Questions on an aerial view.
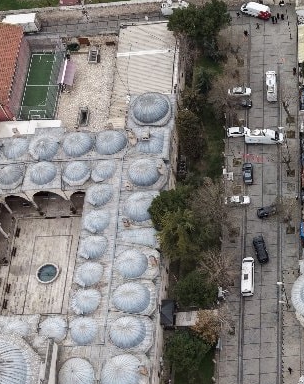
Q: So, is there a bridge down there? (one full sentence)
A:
No, the picture doesn't show any bridge.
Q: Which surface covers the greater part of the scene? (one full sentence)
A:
The largest share of the image is taken up by buildings.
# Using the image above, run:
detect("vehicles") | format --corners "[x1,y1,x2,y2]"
[251,234,268,263]
[225,125,244,137]
[241,161,253,184]
[263,68,277,101]
[241,0,272,17]
[228,97,252,108]
[227,84,251,96]
[241,125,284,144]
[238,254,254,294]
[224,192,250,205]
[253,201,278,216]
